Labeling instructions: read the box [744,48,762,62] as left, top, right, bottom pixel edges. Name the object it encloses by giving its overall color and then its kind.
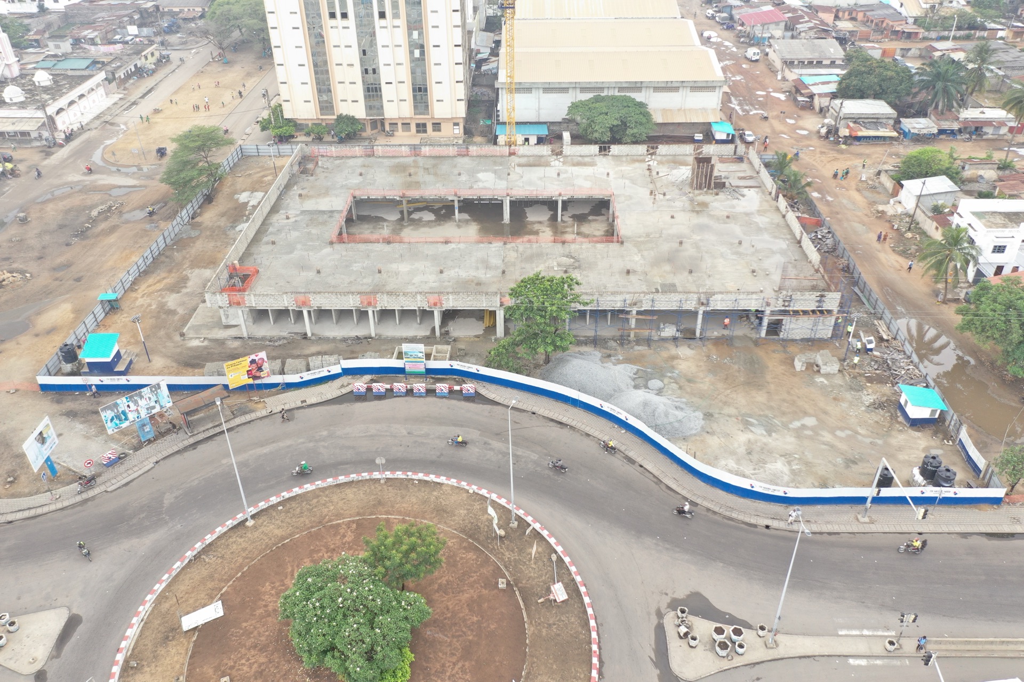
white vehicle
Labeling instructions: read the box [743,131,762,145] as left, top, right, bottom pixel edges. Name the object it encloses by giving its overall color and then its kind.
white car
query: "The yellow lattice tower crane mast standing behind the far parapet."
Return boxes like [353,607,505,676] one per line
[492,0,530,155]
